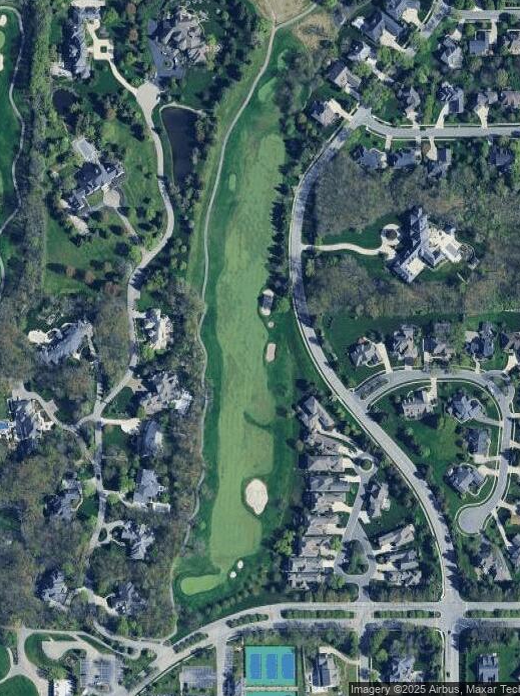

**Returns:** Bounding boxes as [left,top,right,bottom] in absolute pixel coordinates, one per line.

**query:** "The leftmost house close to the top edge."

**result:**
[69,6,102,79]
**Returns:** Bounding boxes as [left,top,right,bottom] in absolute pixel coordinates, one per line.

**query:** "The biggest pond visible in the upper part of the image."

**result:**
[161,106,198,177]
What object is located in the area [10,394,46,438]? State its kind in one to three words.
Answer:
house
